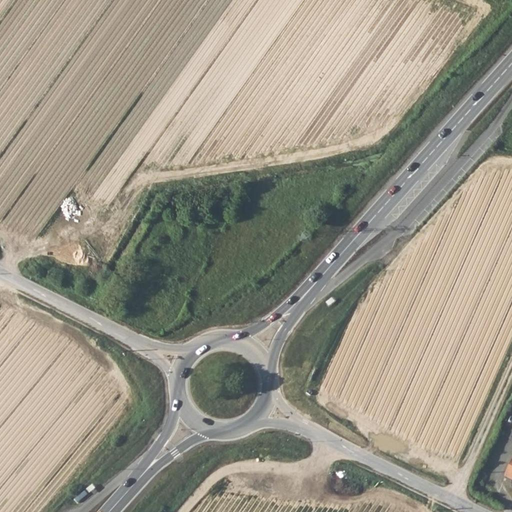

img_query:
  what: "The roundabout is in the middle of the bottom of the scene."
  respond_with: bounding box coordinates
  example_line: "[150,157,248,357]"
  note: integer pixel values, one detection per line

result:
[143,300,302,471]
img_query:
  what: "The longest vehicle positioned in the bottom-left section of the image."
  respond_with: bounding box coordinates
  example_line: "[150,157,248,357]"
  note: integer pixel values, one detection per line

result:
[76,484,96,500]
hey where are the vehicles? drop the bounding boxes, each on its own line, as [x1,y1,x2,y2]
[310,272,320,282]
[182,368,190,379]
[202,418,214,424]
[388,186,398,195]
[76,484,96,500]
[408,162,418,172]
[288,296,297,305]
[124,478,134,488]
[172,400,178,410]
[355,223,364,233]
[325,253,335,263]
[196,345,206,355]
[439,128,450,138]
[268,314,278,322]
[472,91,482,102]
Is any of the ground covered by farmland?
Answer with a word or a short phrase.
Yes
